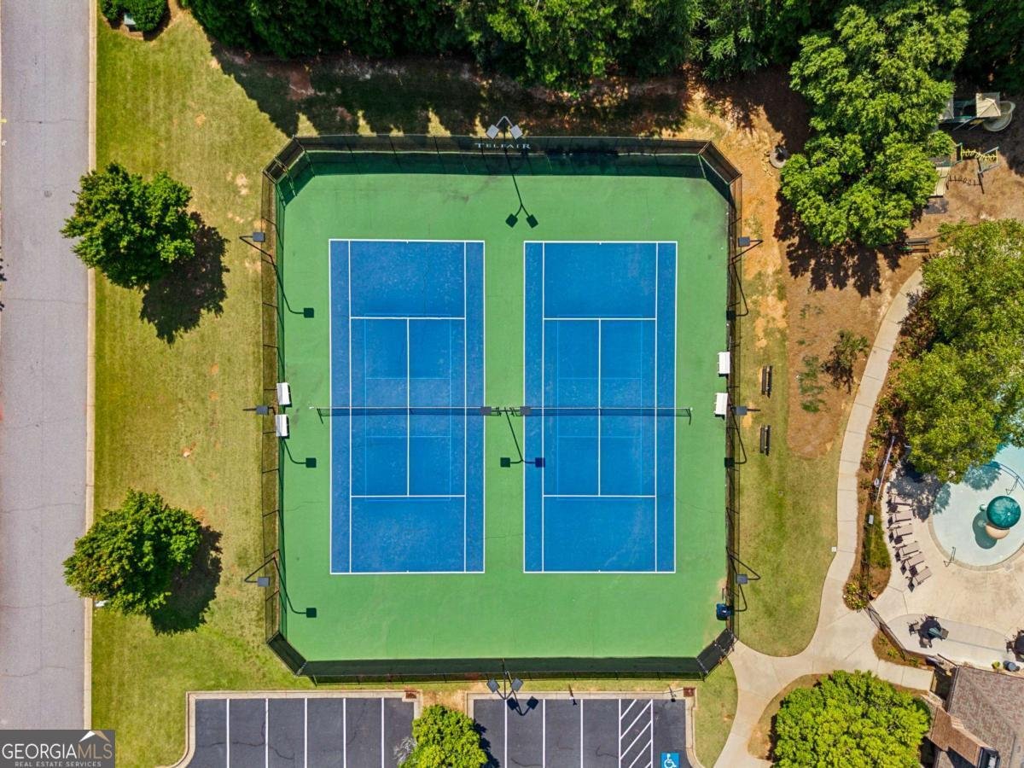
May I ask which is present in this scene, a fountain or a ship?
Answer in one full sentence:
Of the two, only a fountain appears.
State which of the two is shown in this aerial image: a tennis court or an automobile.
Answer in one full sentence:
Looking from above, you can make out a tennis court.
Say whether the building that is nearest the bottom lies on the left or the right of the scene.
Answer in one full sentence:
The building that is nearest the bottom is on the right side of the image.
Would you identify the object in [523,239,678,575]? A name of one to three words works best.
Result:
tennis court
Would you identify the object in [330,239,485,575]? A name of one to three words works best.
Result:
tennis court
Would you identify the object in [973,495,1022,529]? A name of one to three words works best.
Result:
fountain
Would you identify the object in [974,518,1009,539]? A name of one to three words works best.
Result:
fountain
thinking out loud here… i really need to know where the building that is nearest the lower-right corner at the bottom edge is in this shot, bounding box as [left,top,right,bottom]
[904,664,1024,768]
